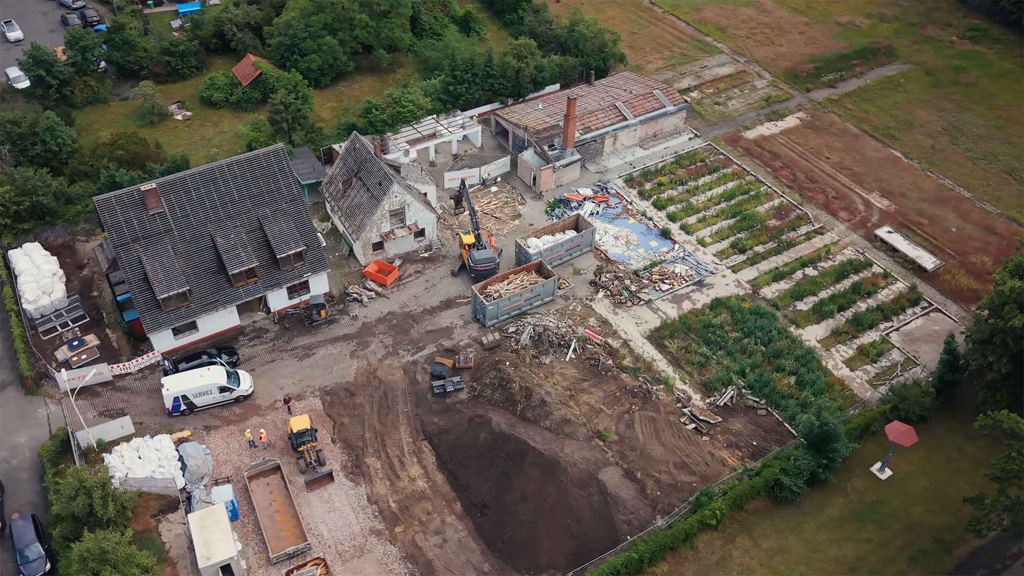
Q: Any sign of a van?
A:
Yes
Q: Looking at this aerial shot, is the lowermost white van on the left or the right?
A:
left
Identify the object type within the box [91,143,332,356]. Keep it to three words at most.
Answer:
house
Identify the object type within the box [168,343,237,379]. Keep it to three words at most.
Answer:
car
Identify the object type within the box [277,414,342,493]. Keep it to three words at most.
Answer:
work vehicle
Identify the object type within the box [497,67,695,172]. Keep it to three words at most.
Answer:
shed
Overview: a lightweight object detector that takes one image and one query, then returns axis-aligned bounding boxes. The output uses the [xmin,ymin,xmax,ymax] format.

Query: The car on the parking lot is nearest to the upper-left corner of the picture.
[0,11,29,45]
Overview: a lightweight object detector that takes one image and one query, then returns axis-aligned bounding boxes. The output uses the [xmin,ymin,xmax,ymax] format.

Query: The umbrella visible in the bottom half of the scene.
[871,420,921,480]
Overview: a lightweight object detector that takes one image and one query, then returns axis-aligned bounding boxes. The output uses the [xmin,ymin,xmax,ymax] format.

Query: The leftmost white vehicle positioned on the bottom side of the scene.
[166,366,256,416]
